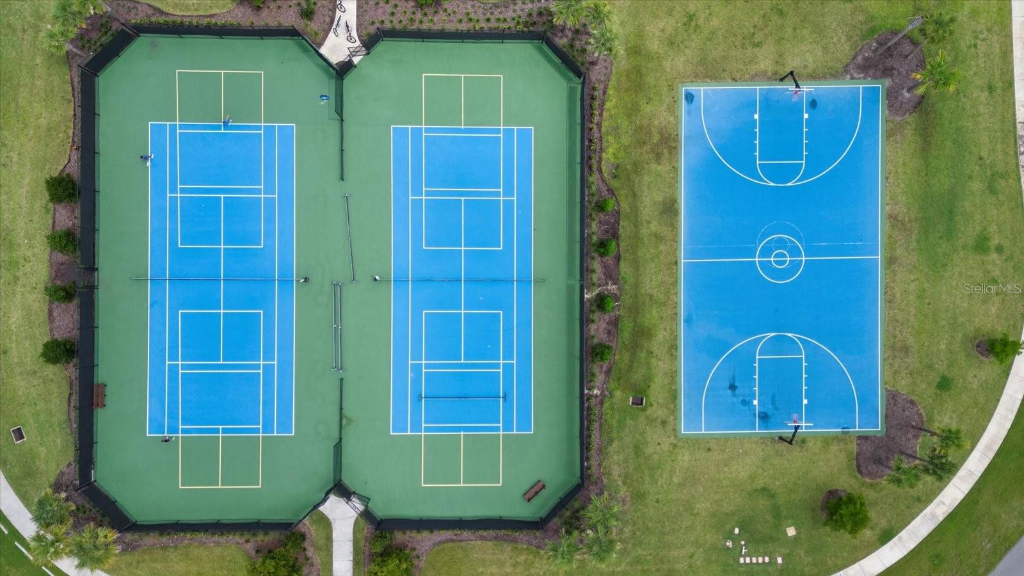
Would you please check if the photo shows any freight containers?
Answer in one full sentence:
No, there isn't any freight container down there.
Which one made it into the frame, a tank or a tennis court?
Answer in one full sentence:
There is a tennis court in the scene.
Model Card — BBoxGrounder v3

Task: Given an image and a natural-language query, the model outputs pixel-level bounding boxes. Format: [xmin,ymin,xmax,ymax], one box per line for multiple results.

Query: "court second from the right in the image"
[339,37,586,521]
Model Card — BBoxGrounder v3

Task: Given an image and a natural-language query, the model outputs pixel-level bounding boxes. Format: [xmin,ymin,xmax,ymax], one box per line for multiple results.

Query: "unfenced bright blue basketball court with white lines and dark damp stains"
[678,79,887,438]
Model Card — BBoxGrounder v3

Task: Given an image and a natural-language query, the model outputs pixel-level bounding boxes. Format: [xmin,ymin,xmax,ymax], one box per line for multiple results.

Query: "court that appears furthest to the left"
[92,34,343,524]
